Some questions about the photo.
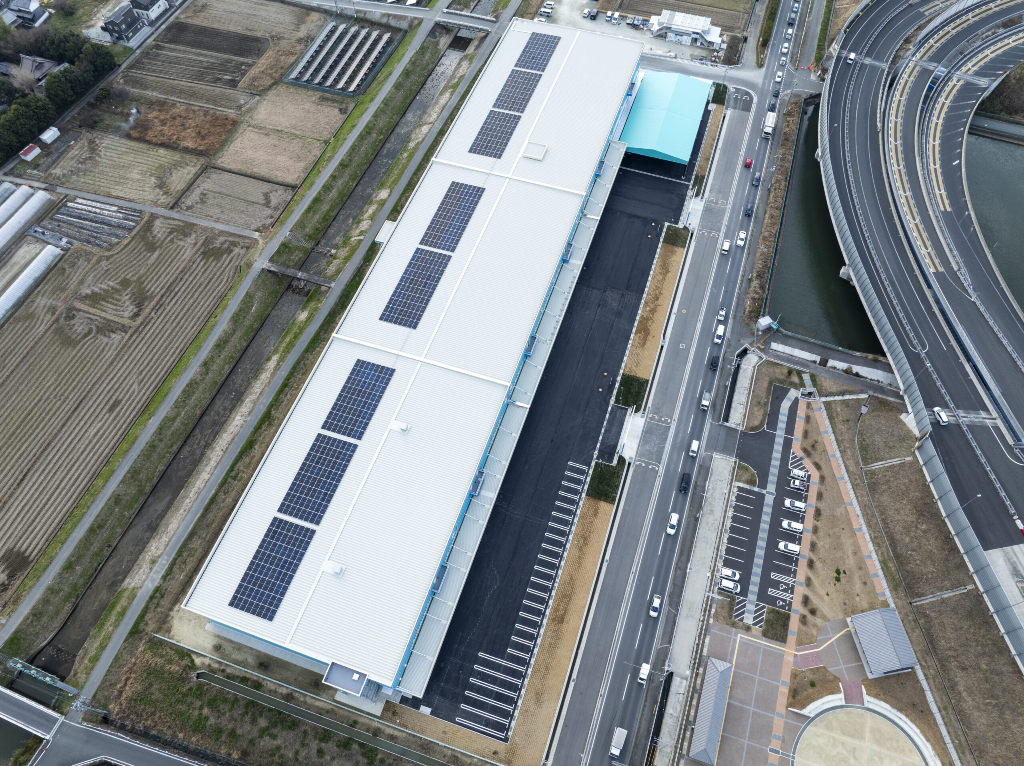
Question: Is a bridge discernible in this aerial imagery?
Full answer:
Yes, a bridge is visible in the scene.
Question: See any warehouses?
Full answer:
Yes, there's a warehouse here.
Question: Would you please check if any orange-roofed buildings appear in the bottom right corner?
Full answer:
No, no orange-roofed building appears in the bottom right corner.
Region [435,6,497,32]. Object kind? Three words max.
bridge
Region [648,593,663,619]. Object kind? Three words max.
car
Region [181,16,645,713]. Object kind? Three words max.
warehouse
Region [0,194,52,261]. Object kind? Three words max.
greenhouse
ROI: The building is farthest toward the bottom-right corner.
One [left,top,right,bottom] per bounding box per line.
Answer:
[848,607,917,682]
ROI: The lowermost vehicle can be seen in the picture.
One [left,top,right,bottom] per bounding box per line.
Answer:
[609,725,628,760]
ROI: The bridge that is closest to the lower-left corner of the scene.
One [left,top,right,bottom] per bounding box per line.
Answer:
[0,684,65,740]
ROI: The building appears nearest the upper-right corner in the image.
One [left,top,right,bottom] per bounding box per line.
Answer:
[648,8,721,51]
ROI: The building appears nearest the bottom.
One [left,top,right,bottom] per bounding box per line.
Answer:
[689,657,733,766]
